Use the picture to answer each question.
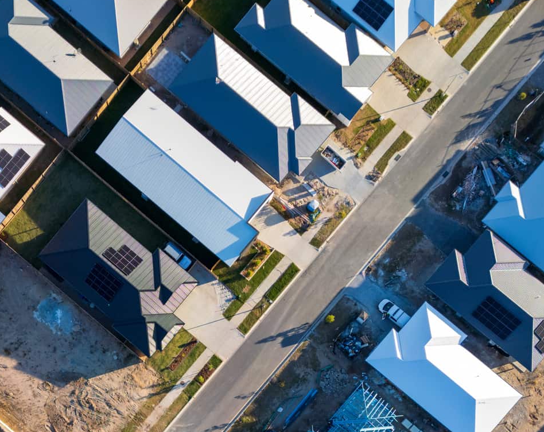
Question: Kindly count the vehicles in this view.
2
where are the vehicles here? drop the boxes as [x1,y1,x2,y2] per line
[160,239,194,272]
[380,298,412,328]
